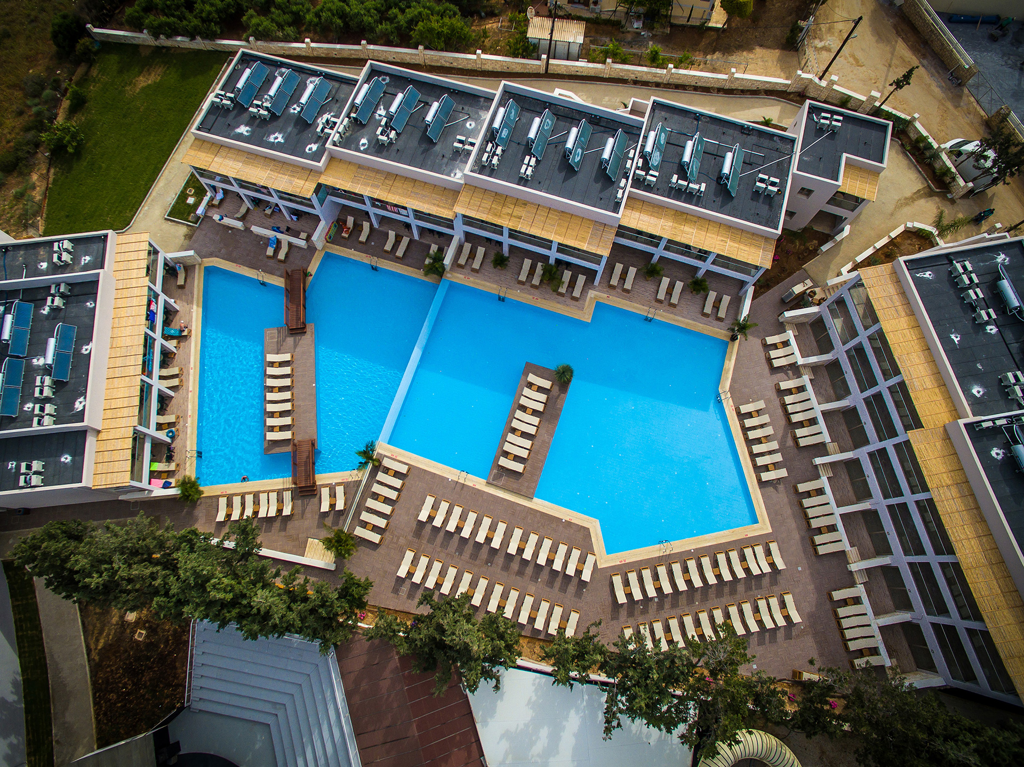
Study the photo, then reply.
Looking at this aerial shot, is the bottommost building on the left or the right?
right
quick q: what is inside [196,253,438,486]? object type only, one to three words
swimming pool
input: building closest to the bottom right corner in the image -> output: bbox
[839,406,1024,711]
